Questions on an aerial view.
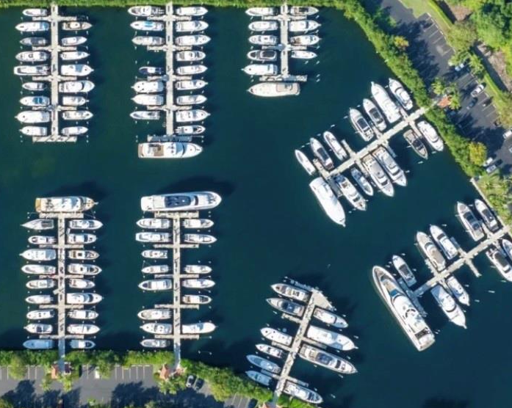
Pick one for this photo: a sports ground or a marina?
marina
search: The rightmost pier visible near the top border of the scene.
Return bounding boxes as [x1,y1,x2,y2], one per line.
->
[261,0,307,81]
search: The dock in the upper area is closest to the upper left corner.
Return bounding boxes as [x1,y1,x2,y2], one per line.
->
[32,4,75,141]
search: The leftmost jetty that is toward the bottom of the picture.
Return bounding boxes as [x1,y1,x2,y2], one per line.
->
[38,212,83,377]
